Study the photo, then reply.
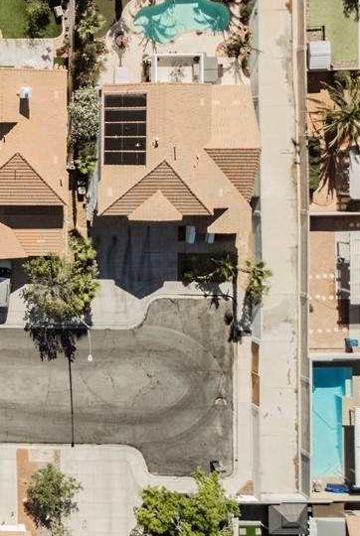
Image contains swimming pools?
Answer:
Yes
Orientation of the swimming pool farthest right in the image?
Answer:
vertically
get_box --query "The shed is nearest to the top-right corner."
[308,40,333,70]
